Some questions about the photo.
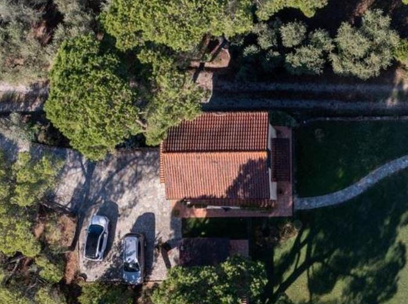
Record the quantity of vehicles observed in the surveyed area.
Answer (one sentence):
Looking from above, you can make out 2 vehicles.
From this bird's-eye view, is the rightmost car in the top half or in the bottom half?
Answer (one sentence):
You can find the rightmost car in the bottom half.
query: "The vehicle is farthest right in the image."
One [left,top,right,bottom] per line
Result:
[119,234,144,283]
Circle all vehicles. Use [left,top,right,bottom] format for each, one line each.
[119,234,144,283]
[84,216,110,260]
